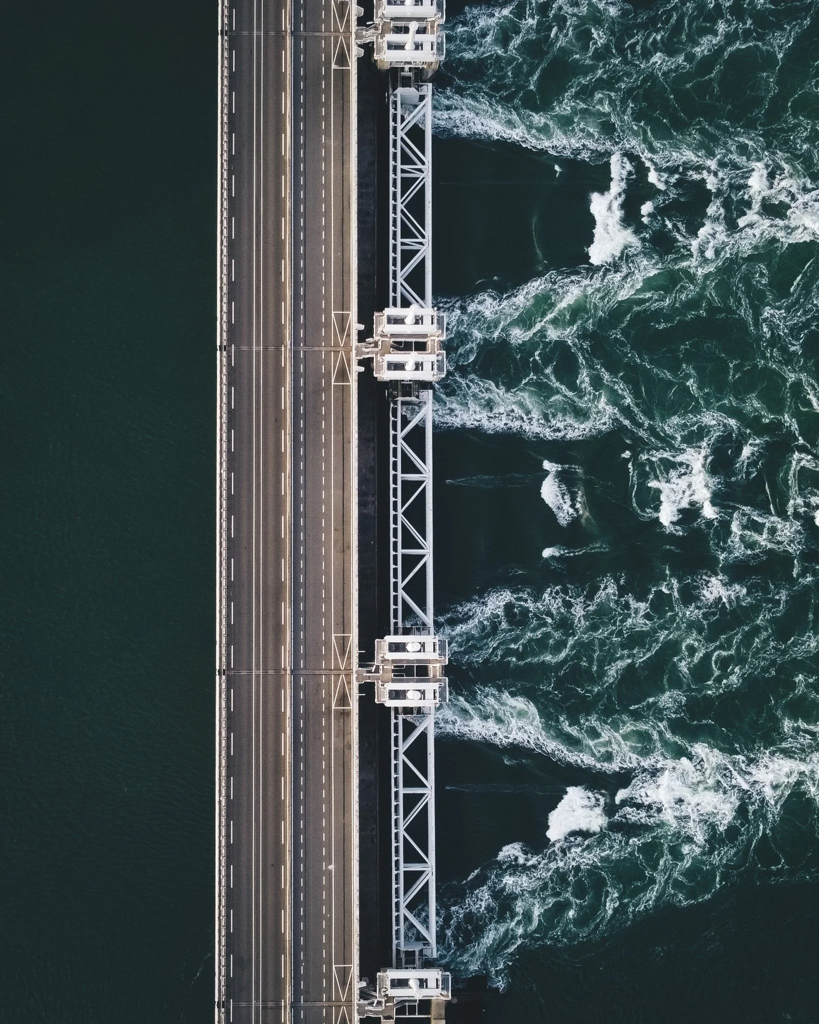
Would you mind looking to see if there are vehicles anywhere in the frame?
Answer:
No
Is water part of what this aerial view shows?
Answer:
Yes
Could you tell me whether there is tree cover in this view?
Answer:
No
